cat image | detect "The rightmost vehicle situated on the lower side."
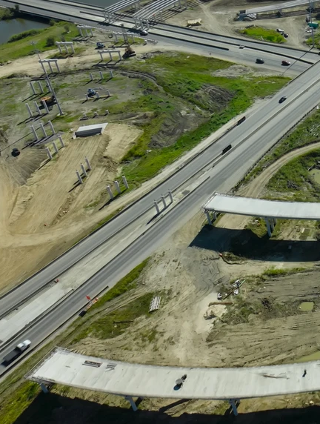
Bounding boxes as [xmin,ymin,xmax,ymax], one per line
[7,335,32,354]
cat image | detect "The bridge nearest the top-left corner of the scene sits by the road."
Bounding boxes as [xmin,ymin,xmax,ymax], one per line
[28,0,88,26]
